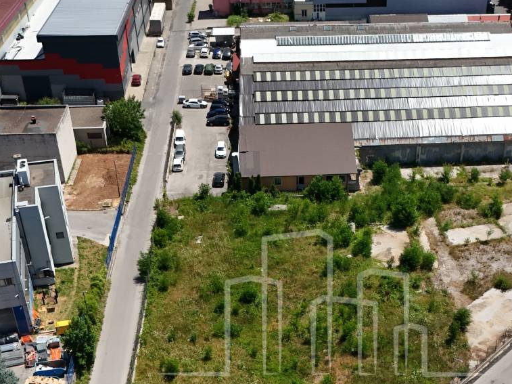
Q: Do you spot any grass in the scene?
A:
Yes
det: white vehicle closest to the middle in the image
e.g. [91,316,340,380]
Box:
[214,141,227,157]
